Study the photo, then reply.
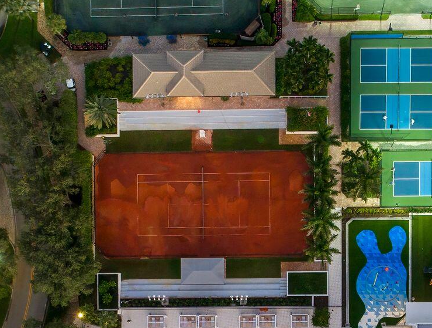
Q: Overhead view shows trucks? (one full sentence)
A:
No, I can see no truck in this picture.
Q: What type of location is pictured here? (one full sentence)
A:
What you see here is a sports ground.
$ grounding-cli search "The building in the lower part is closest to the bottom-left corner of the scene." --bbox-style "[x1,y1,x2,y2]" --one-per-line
[181,258,225,284]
